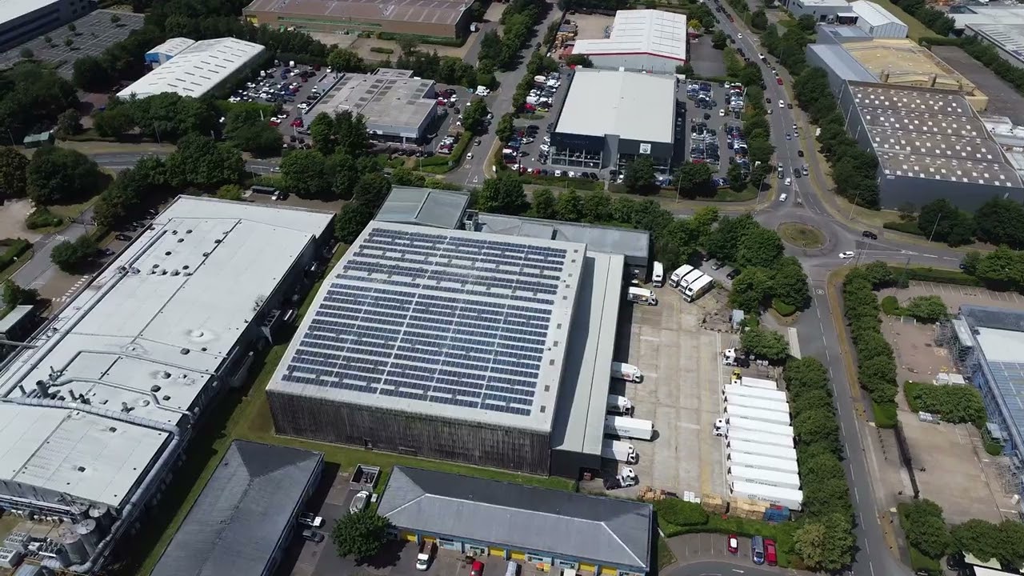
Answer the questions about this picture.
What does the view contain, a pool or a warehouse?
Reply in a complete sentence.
I can see a warehouse in this picture.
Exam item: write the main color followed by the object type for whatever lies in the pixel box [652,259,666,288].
white vehicle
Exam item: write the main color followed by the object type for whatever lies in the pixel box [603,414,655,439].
white trailer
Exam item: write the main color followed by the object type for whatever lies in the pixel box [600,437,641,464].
white truck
